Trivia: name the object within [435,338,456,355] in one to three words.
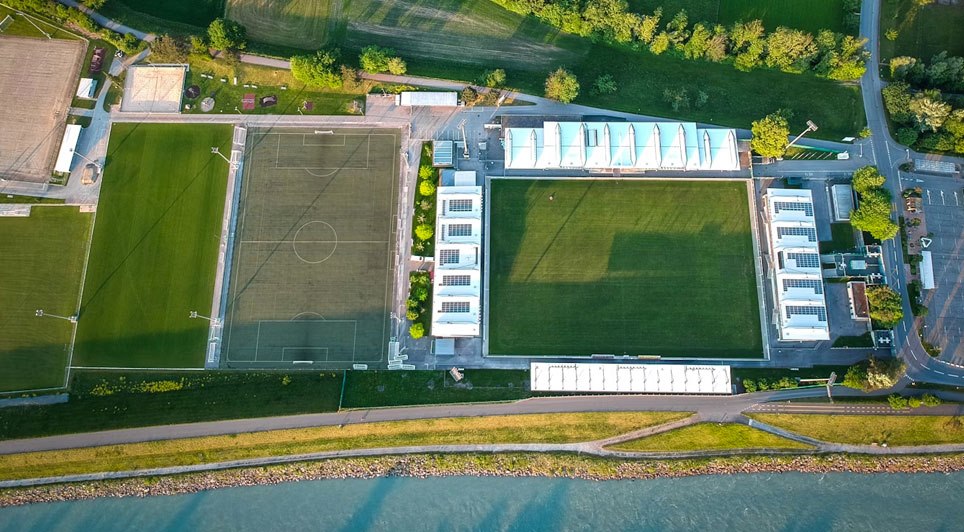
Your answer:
shed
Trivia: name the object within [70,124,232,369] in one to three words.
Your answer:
soccer field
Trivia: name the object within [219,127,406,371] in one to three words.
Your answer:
soccer field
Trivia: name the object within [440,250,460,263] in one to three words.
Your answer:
solar array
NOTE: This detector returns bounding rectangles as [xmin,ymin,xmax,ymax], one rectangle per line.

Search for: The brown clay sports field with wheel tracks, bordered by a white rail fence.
[0,35,87,184]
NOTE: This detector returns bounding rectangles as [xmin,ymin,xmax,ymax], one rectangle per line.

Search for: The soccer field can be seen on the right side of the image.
[482,173,773,363]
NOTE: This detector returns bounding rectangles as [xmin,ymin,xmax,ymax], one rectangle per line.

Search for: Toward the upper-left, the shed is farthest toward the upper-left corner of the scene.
[76,77,106,100]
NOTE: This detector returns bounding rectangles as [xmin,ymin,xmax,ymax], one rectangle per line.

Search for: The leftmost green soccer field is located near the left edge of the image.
[0,209,89,393]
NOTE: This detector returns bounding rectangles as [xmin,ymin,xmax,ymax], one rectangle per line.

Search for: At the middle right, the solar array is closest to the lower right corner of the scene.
[786,307,830,321]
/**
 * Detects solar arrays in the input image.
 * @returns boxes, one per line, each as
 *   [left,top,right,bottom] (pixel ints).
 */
[442,276,471,286]
[789,254,824,267]
[440,250,460,263]
[786,307,830,321]
[451,201,474,211]
[450,225,474,236]
[778,228,821,241]
[783,280,827,294]
[776,203,818,217]
[441,302,470,313]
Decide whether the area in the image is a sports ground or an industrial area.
sports ground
